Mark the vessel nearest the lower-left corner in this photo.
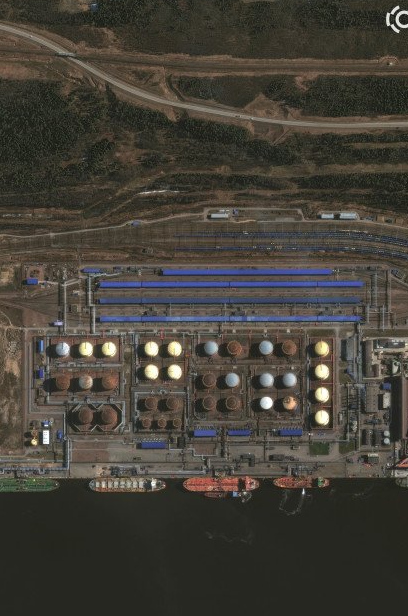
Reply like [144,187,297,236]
[0,477,59,492]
